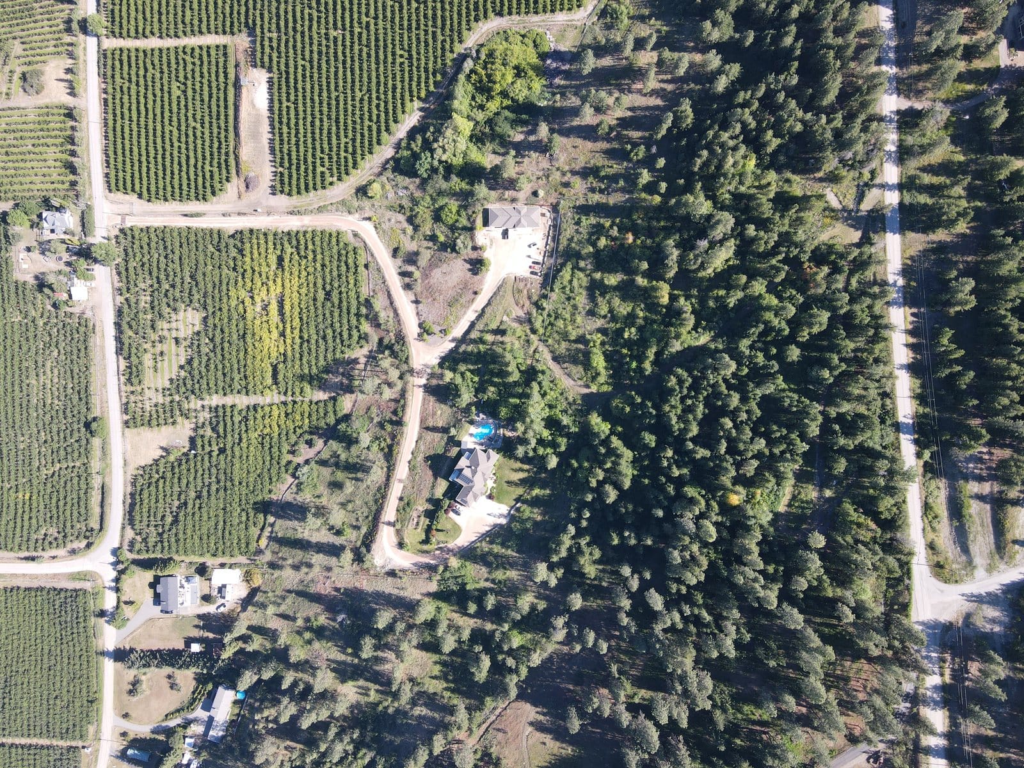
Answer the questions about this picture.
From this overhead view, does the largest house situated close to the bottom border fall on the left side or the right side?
left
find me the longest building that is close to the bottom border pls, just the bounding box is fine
[207,682,238,742]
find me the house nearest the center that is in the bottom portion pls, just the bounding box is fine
[449,447,500,507]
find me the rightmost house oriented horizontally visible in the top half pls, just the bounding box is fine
[489,207,540,228]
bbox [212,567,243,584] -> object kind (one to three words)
building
